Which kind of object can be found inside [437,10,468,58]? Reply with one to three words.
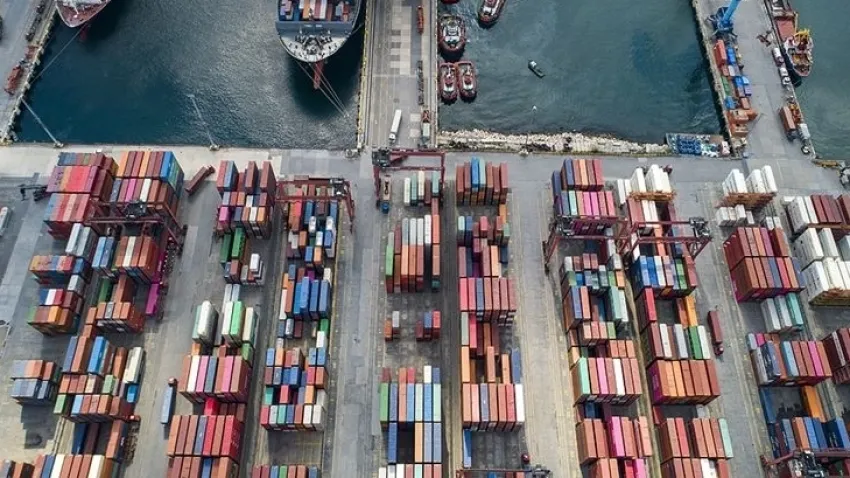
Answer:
boat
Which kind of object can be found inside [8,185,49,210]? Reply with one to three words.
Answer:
work vehicle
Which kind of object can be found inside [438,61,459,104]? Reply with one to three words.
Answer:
boat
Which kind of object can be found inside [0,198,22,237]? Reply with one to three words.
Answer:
truck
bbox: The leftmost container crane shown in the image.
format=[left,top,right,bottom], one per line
[83,198,185,246]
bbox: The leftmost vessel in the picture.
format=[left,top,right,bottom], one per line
[56,0,113,48]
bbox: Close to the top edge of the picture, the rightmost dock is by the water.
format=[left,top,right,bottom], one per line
[691,0,815,159]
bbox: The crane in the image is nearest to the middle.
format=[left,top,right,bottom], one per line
[372,147,446,202]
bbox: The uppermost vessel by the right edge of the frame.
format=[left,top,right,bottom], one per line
[769,0,823,80]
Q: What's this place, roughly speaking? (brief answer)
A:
port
